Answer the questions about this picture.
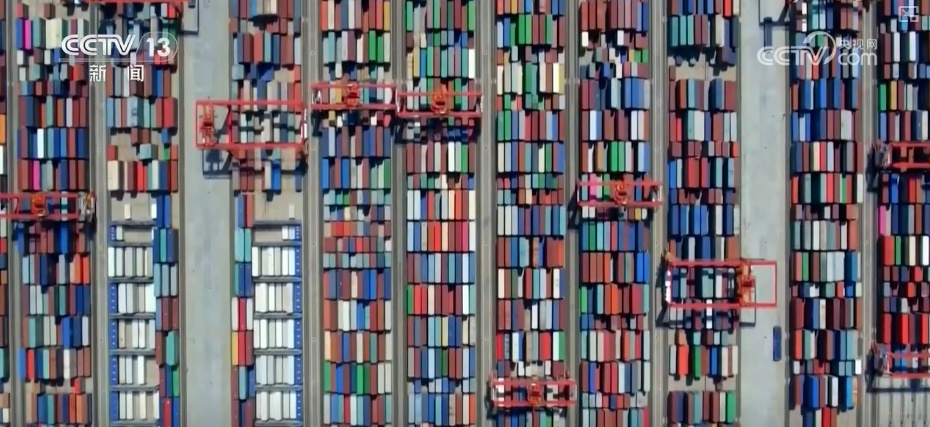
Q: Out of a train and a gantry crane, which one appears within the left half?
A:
gantry crane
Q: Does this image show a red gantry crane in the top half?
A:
Yes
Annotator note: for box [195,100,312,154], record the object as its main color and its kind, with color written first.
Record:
red container crane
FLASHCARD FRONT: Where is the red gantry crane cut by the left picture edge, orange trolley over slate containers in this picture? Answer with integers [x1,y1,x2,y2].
[0,184,97,227]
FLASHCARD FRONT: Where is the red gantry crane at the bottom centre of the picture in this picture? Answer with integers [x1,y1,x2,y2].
[488,363,579,410]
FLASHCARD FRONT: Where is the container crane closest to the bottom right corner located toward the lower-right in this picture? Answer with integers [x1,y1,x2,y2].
[868,336,930,379]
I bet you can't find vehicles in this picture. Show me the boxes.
[773,324,781,361]
[764,16,772,53]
